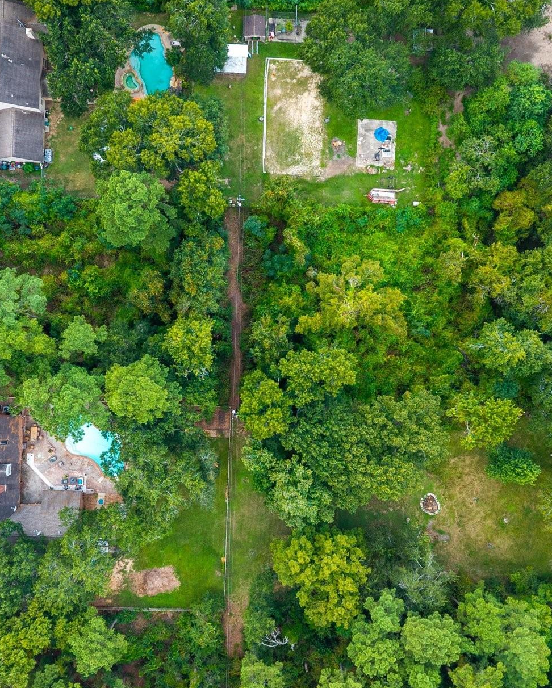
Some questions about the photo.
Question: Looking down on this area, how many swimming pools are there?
2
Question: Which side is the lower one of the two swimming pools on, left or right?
left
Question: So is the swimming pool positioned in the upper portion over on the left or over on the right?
left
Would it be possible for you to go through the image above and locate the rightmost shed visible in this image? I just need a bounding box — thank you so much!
[243,15,266,61]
